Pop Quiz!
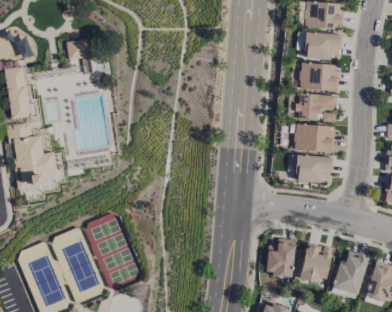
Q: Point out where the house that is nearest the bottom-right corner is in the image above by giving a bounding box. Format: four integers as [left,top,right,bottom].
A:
[364,260,392,302]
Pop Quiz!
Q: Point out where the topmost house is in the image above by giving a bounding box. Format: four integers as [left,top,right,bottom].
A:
[304,2,344,30]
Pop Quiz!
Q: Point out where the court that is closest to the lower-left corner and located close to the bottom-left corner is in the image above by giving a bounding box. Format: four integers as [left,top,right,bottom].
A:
[19,243,70,312]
